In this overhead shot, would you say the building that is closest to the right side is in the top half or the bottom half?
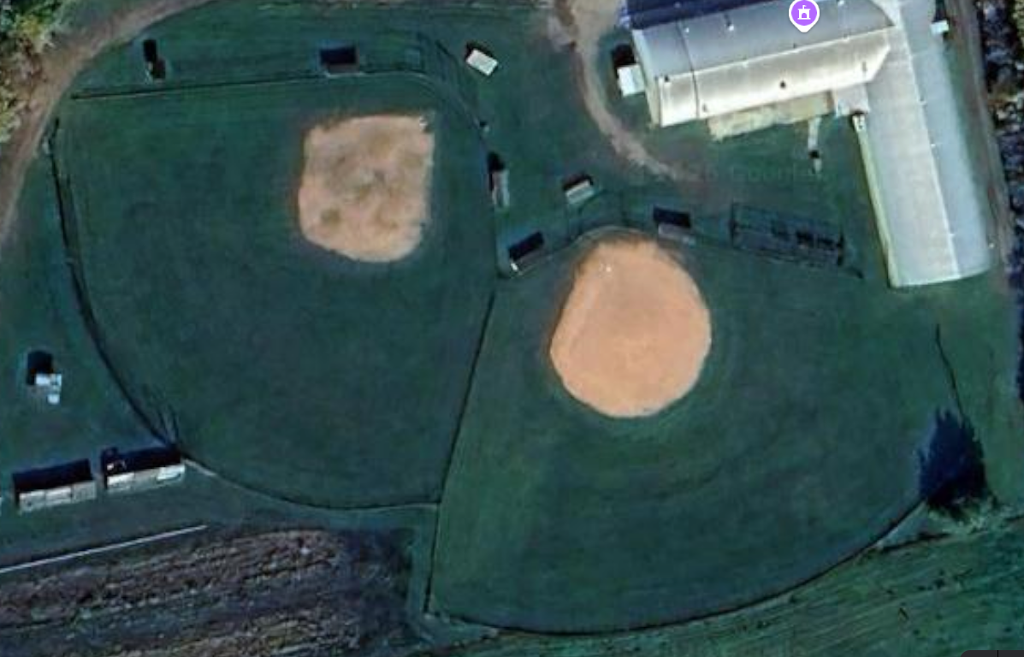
top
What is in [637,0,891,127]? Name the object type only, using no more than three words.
barn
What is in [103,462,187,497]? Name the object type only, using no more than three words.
shed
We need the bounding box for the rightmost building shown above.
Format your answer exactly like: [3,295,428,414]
[867,0,991,287]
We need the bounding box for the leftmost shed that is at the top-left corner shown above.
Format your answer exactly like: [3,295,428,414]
[148,56,166,81]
